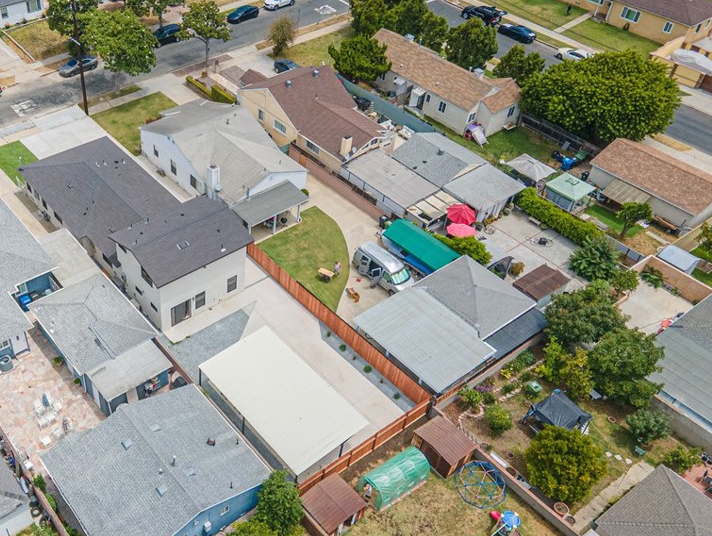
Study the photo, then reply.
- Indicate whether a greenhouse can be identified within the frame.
Yes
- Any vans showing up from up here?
Yes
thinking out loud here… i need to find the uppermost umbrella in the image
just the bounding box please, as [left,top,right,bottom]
[498,153,560,189]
